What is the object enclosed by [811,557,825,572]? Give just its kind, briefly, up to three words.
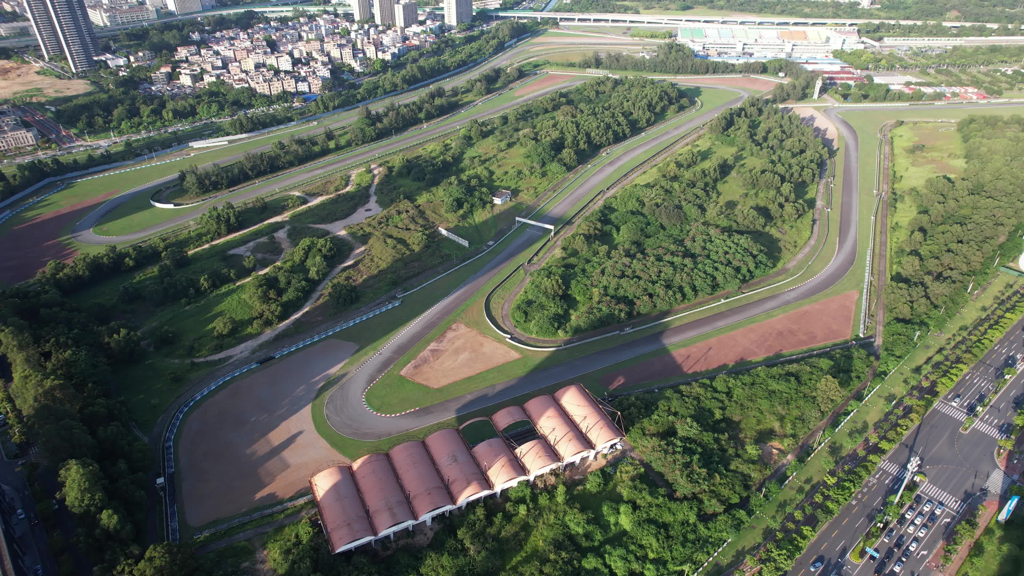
car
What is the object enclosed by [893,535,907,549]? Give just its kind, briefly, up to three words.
car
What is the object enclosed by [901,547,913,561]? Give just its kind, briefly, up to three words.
vehicle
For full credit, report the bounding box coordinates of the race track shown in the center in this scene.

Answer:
[70,42,1024,439]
